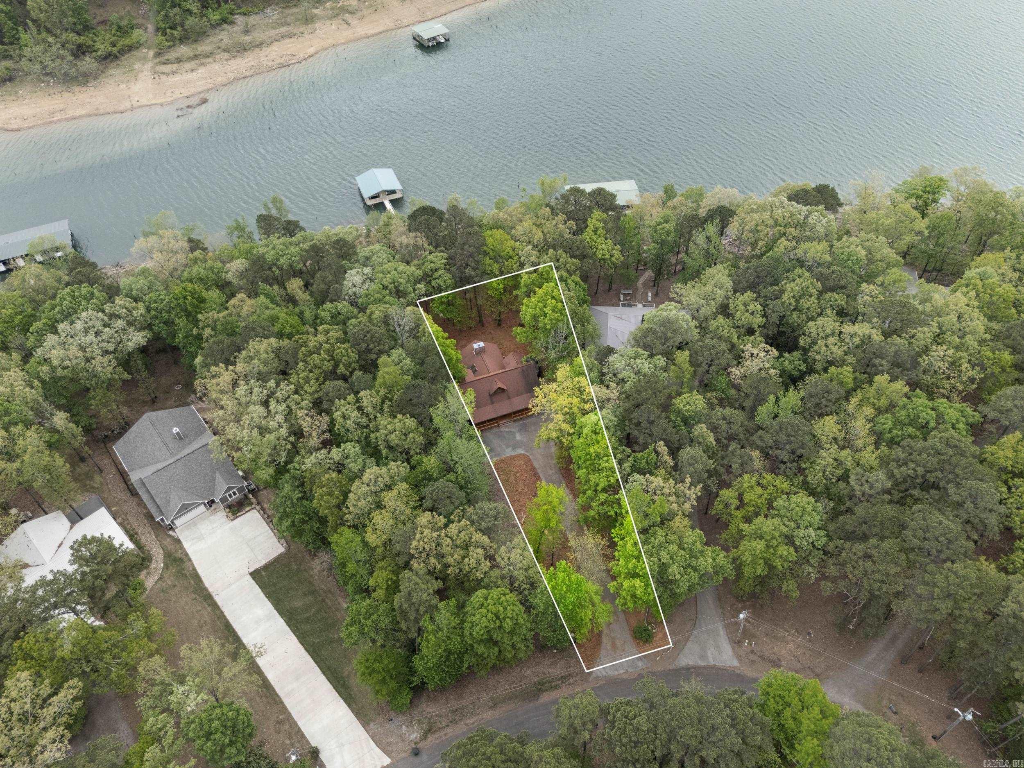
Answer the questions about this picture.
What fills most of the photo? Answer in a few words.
trees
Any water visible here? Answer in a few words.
Yes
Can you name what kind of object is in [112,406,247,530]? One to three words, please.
house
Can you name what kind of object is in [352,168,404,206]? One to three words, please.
pier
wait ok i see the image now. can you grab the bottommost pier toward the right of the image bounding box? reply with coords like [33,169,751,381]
[585,179,646,214]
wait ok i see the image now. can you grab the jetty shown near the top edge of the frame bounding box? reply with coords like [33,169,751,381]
[409,22,451,48]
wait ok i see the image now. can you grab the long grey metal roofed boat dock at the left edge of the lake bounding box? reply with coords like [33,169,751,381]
[0,219,75,268]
